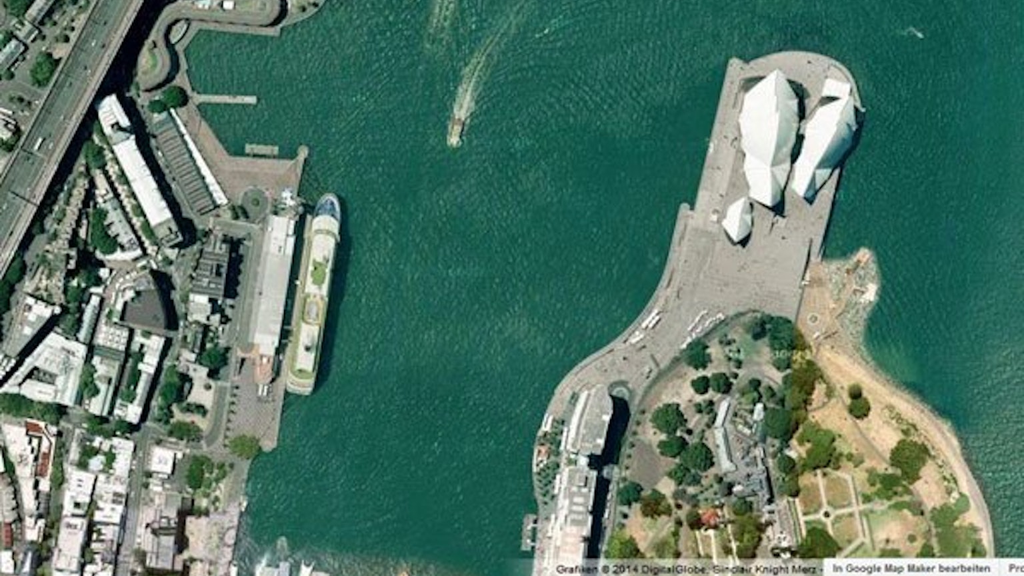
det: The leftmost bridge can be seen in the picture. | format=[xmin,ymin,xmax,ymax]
[0,0,143,276]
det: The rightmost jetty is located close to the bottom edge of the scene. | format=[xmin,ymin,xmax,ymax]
[521,514,540,551]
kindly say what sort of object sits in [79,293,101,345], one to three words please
house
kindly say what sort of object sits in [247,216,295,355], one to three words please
building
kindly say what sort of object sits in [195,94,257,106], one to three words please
pier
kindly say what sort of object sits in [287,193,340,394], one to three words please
ship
